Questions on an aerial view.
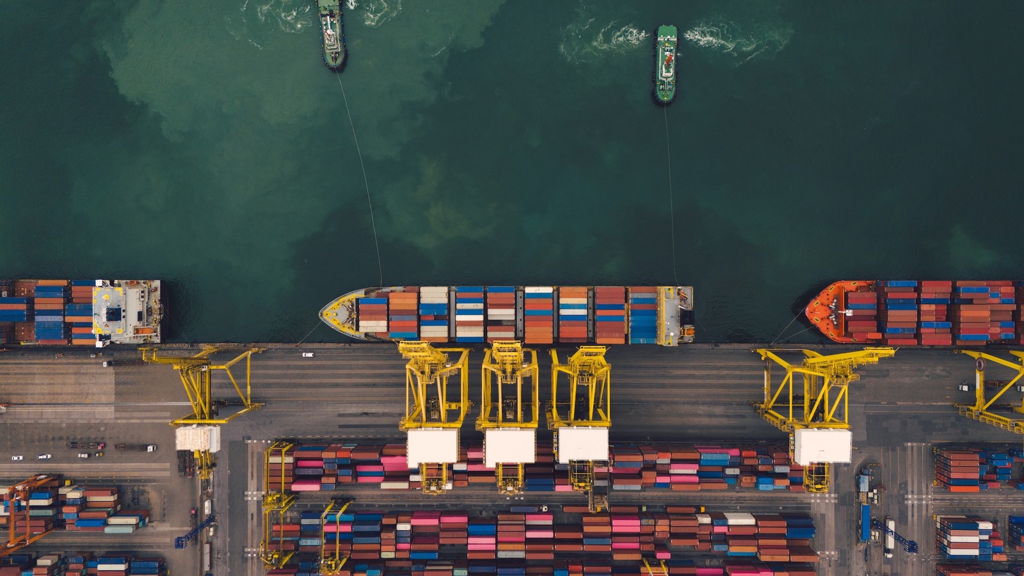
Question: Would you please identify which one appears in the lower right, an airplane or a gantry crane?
gantry crane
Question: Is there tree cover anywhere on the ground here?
No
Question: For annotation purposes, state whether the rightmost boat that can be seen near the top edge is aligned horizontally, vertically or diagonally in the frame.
vertically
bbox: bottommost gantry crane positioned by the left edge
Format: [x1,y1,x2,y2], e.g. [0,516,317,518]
[10,472,64,545]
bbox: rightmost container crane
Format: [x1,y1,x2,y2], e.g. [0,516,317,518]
[949,348,1024,469]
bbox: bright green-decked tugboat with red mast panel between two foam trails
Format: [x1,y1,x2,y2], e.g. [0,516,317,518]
[652,25,679,104]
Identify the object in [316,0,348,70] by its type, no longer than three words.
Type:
boat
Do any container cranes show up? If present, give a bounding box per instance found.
[10,472,64,545]
[541,347,612,512]
[949,348,1024,469]
[135,348,262,477]
[321,497,356,574]
[477,342,545,499]
[746,343,890,500]
[264,496,303,570]
[398,342,478,499]
[639,554,669,576]
[265,436,304,509]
